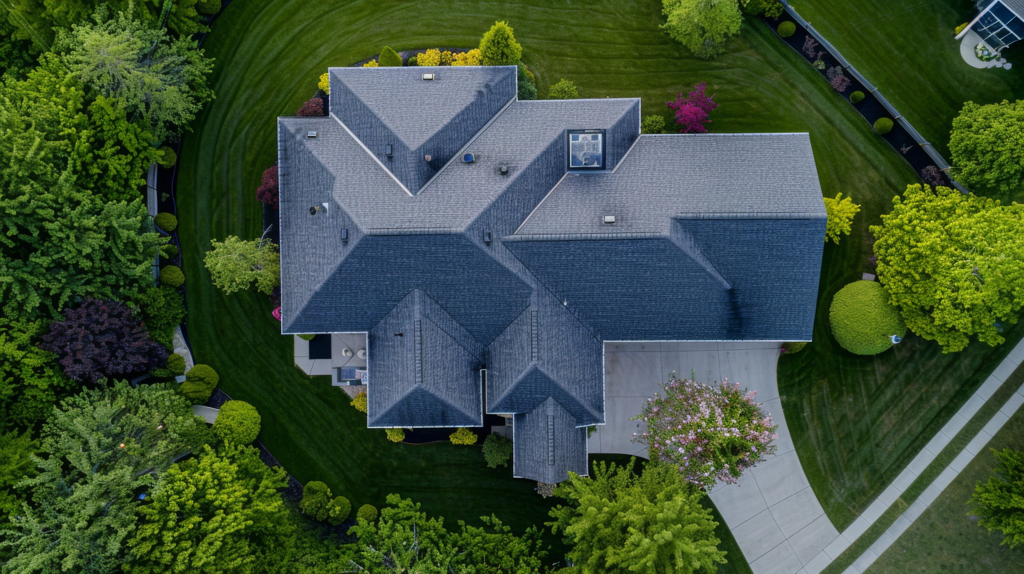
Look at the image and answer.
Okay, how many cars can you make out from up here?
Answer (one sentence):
Not a single car can be seen.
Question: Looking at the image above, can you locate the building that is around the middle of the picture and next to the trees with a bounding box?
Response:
[277,64,828,483]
